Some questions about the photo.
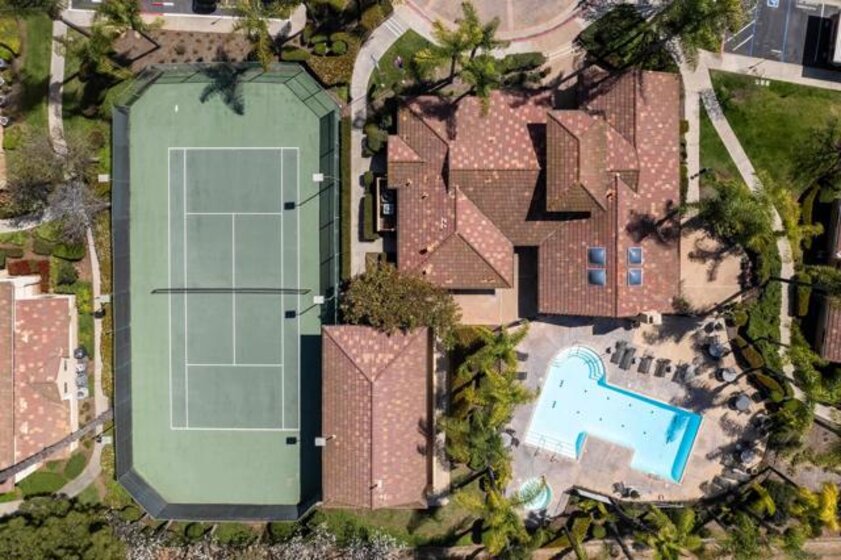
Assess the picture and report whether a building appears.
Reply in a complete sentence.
Yes, the picture does show a building.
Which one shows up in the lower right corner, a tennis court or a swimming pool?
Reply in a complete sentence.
Visible in the lower right corner is a swimming pool.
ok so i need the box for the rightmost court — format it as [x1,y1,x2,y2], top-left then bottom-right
[129,63,342,506]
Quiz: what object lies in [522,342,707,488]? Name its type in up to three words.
swimming pool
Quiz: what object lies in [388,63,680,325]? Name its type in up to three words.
building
